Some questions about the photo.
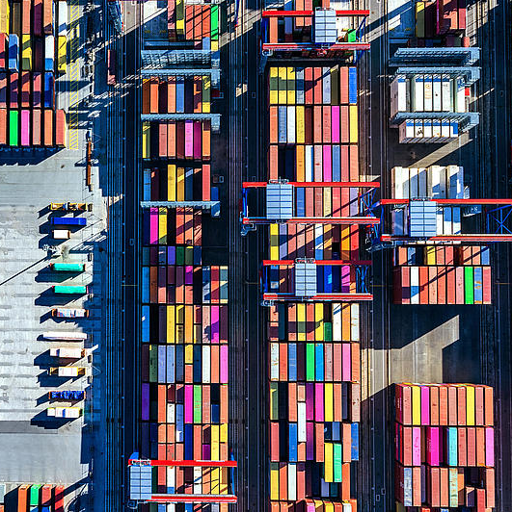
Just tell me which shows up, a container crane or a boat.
container crane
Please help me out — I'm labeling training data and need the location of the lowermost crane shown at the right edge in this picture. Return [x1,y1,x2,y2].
[365,195,512,257]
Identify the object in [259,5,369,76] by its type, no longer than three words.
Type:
container crane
